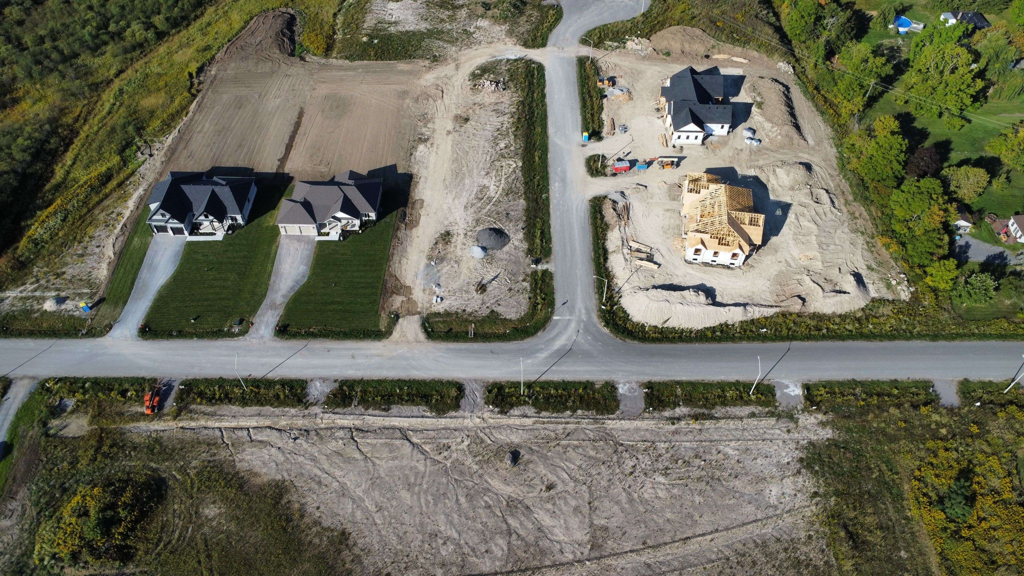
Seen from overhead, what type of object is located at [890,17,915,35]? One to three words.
swimming pool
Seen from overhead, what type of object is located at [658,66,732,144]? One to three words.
house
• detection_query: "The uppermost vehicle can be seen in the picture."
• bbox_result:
[598,74,612,86]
